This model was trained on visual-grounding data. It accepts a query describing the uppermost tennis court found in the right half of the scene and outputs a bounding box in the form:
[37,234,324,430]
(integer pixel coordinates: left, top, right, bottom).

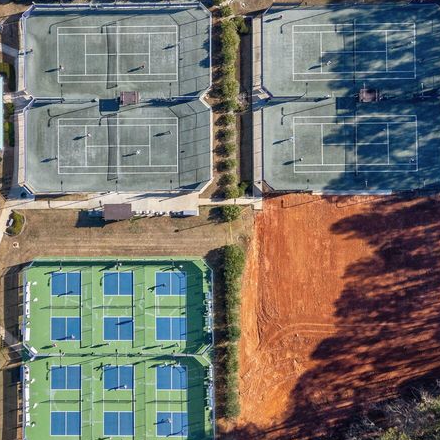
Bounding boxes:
[264,7,440,100]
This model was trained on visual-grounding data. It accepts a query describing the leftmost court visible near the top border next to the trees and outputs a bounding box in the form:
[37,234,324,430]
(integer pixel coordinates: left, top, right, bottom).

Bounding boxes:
[25,8,209,100]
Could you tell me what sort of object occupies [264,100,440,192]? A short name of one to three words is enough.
tennis court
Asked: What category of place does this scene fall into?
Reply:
sports ground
